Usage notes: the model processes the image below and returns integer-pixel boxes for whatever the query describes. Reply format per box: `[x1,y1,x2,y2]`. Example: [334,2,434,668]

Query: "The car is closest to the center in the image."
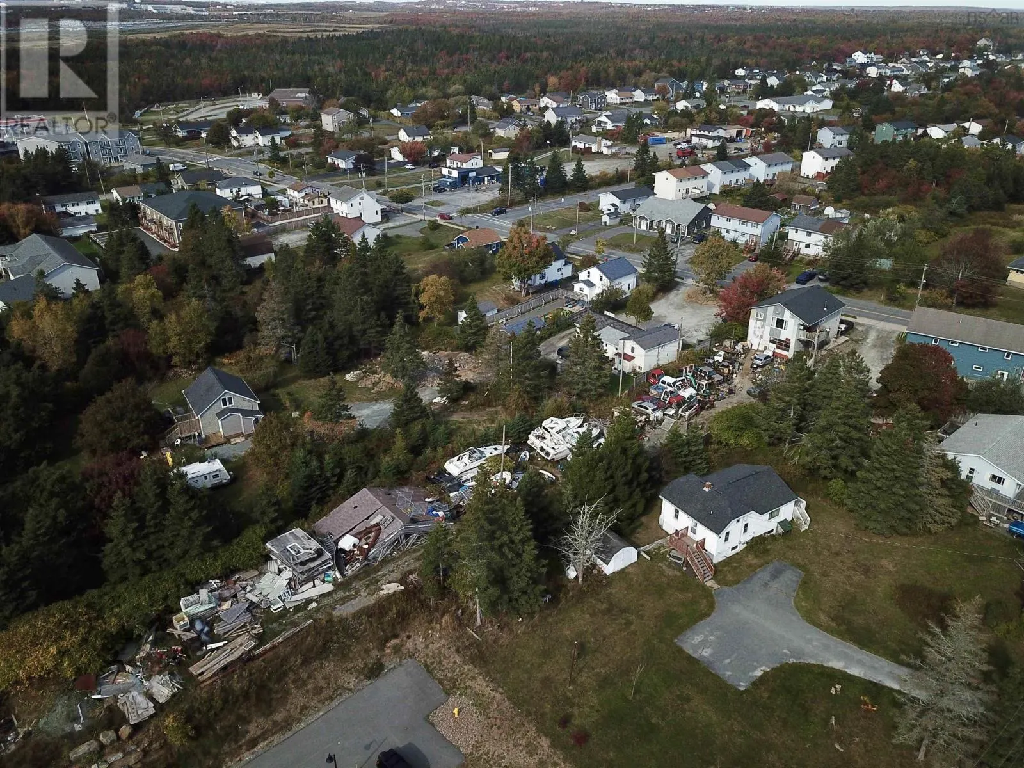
[555,344,574,357]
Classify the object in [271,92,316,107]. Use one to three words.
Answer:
building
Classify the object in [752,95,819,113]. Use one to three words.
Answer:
building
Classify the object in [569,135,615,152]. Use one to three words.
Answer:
house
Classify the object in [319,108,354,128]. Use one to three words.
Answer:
house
